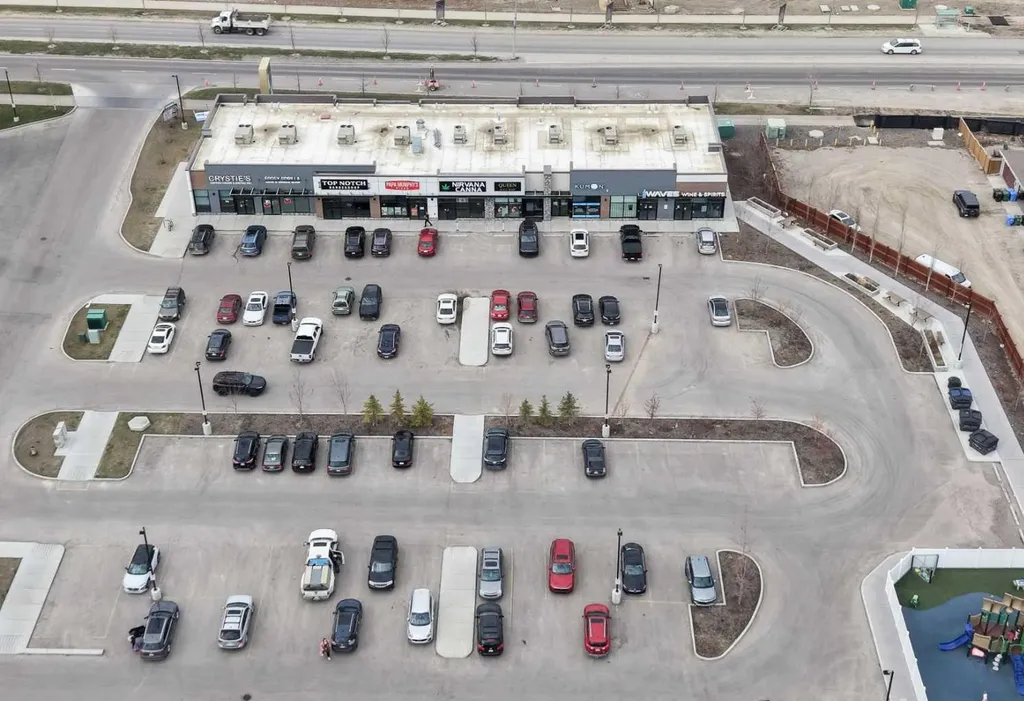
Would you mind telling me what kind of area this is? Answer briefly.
parking lot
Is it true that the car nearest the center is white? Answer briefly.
Yes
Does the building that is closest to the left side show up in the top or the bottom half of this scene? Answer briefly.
top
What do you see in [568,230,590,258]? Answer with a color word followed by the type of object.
white car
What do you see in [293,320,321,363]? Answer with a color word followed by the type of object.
white vehicle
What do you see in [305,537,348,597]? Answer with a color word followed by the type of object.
white vehicle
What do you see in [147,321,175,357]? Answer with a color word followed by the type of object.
white car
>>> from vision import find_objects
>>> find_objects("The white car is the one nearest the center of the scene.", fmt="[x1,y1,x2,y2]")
[490,324,514,357]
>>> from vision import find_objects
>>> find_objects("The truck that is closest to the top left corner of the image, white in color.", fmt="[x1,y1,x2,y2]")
[210,6,270,33]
